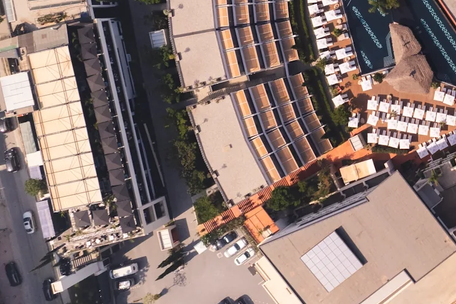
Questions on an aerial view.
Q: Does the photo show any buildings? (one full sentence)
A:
Yes, I can see a building in this picture.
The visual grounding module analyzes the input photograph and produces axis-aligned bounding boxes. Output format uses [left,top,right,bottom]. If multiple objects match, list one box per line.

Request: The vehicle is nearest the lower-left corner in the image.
[3,261,22,288]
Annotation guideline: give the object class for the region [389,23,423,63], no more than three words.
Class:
shed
